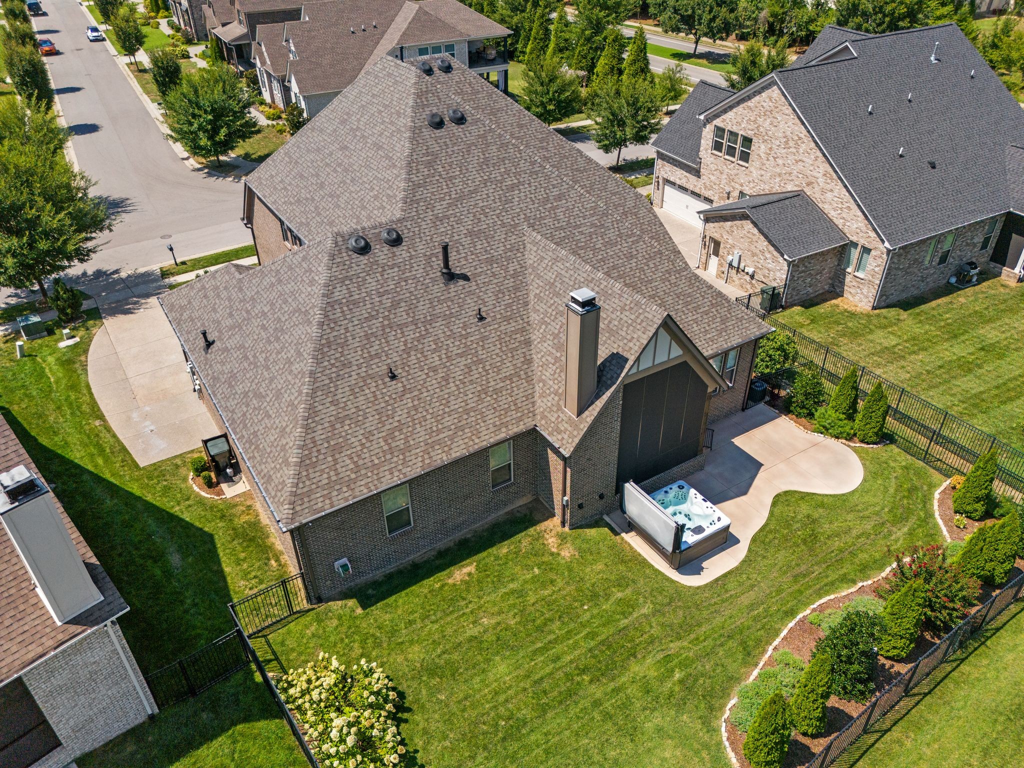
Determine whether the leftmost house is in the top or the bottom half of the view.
bottom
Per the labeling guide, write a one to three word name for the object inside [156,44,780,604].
house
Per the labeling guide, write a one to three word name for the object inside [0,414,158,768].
house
